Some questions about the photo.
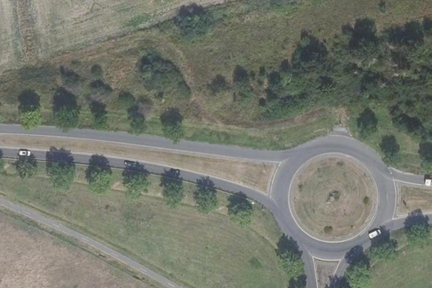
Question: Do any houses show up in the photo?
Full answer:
No, there's no house here.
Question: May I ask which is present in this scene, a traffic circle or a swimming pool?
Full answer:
It is a traffic circle that can be seen here.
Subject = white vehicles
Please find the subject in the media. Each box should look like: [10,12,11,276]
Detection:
[18,150,30,156]
[368,228,382,238]
[424,177,432,185]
